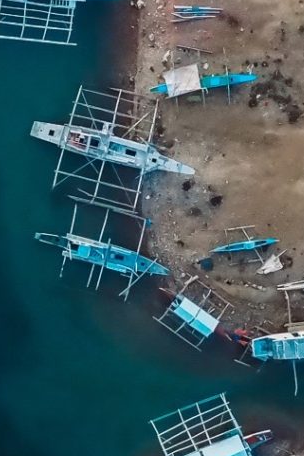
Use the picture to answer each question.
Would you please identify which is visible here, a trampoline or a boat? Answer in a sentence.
I can see a boat in this picture.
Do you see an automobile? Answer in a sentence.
No, the picture doesn't show any automobile.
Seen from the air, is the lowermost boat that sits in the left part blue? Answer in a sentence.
Yes, the lowermost boat that sits in the left part is blue.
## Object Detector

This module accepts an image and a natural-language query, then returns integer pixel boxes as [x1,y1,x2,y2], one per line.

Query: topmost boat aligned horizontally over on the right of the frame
[171,6,223,22]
